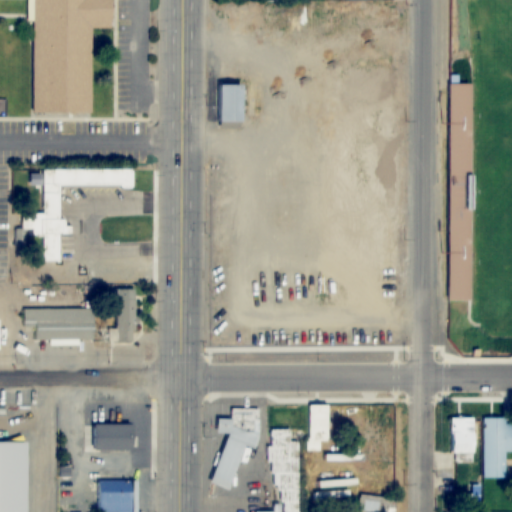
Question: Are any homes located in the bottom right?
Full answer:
Yes, looking in the bottom right, one can make out a home.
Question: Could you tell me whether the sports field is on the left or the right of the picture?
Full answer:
The sports field sits on the right side.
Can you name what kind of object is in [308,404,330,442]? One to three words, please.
house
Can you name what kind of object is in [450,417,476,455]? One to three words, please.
house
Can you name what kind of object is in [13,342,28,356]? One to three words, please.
vehicle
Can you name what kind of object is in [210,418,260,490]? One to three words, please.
building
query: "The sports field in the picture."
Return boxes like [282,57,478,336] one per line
[450,0,512,357]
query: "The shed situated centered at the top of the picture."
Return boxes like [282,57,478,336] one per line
[218,84,246,122]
